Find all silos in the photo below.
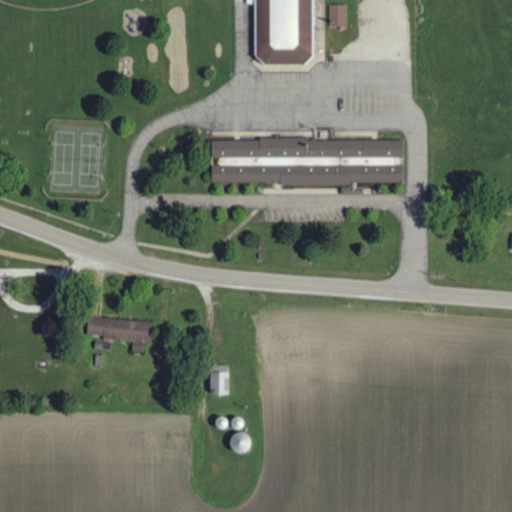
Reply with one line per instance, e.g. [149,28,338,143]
[215,416,230,431]
[230,416,245,431]
[230,431,252,454]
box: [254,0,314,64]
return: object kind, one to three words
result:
building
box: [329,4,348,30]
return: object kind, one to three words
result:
shed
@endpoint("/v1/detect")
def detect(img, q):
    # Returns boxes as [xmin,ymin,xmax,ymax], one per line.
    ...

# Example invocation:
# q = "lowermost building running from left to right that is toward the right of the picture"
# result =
[212,138,404,186]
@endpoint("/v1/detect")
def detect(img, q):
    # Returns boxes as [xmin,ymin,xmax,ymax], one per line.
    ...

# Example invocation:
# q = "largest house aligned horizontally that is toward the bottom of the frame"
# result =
[89,318,153,353]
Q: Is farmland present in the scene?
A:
Yes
